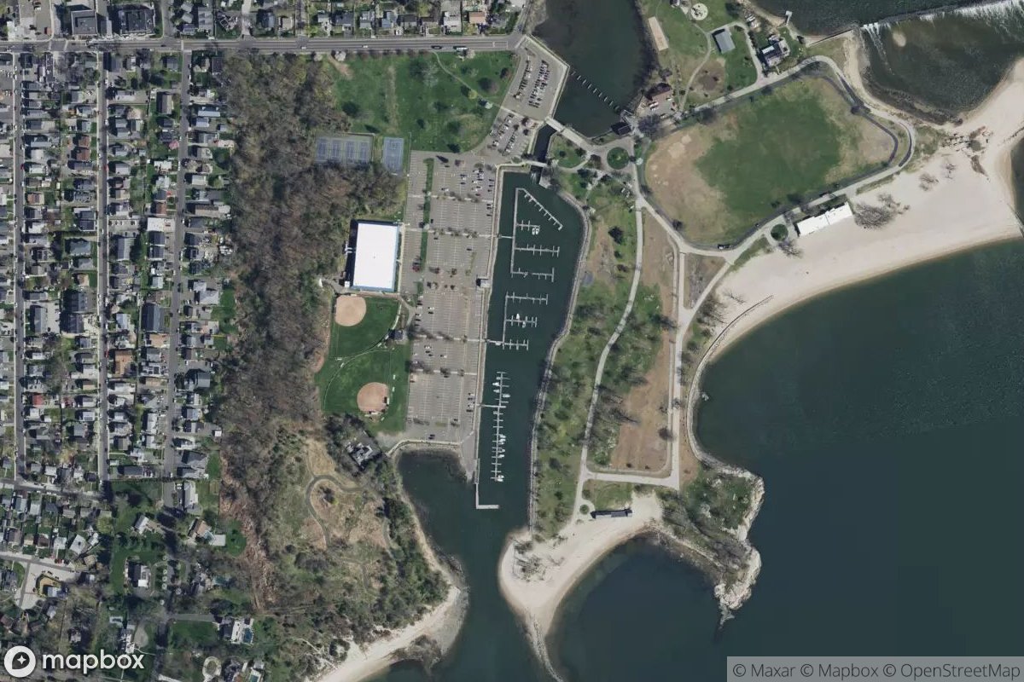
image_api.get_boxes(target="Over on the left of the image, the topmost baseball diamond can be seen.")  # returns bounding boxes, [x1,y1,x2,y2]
[328,294,401,358]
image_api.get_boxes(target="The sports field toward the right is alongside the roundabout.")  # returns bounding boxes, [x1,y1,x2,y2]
[645,77,893,241]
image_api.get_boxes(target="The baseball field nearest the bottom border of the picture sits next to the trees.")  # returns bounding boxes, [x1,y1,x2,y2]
[325,345,409,426]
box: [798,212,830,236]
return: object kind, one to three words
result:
building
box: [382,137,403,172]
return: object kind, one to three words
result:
basketball court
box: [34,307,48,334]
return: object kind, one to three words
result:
house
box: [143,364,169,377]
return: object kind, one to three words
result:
house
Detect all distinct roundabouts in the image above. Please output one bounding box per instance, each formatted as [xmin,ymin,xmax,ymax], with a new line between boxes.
[582,133,642,201]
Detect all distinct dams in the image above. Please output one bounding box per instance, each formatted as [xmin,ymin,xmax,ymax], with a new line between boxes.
[856,0,1016,28]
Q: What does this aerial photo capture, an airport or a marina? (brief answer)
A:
marina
